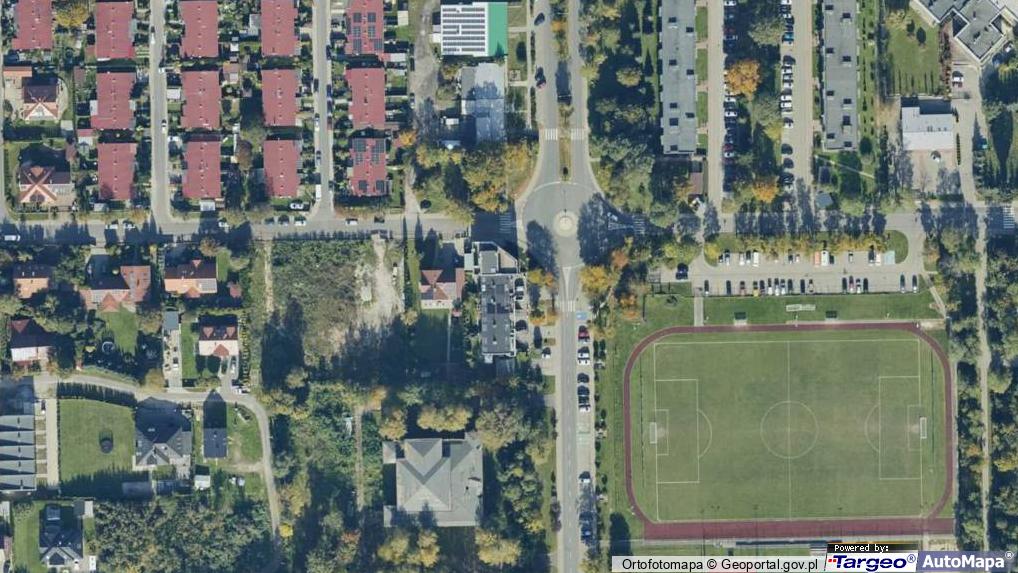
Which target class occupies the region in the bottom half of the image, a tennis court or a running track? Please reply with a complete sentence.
It is a running track that can be seen in the bottom half of the image.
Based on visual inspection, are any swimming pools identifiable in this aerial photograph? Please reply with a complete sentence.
No, there appears to be no swimming pool in this shot.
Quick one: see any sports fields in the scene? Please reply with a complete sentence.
Yes, this view includes a sports field.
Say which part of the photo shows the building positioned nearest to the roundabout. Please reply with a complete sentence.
The building positioned nearest to the roundabout sits in the center section of the image.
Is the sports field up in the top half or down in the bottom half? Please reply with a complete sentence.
The sports field is in the bottom half of the image.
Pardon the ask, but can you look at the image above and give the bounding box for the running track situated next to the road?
[623,322,954,541]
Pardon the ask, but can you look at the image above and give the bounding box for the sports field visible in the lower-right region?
[650,335,926,521]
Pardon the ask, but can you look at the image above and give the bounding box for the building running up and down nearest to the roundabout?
[465,243,517,373]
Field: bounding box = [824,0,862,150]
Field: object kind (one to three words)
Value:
building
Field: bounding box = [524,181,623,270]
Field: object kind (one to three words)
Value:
roundabout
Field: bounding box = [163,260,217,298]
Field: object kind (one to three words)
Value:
house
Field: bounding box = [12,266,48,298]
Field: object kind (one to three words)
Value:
house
